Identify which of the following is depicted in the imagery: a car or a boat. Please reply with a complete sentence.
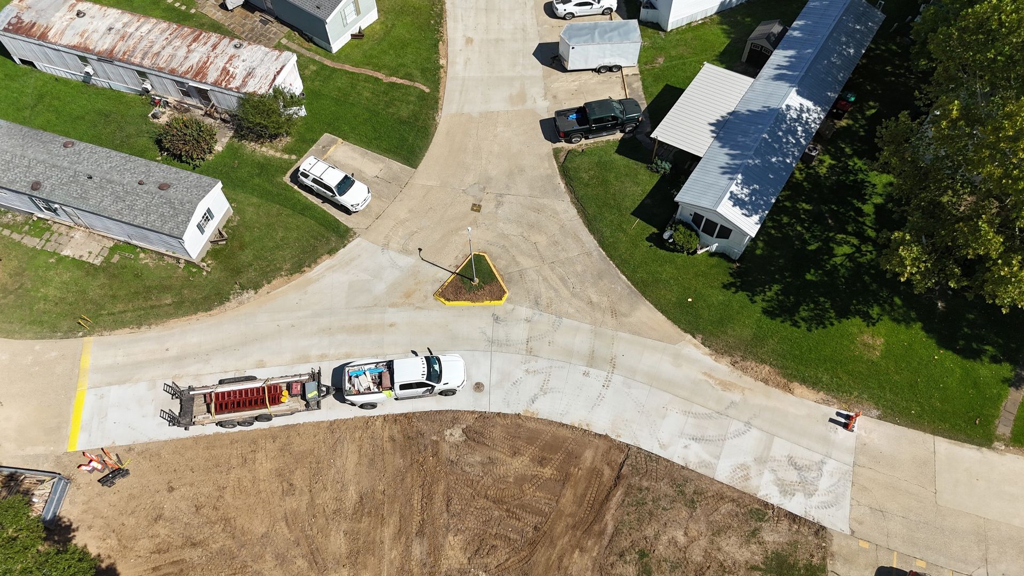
The image shows a car.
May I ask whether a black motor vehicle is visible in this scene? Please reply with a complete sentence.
Yes, the frame does contain a black motor vehicle.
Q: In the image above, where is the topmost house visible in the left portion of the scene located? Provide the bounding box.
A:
[247,0,380,54]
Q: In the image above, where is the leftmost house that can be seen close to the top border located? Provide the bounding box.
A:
[0,0,310,123]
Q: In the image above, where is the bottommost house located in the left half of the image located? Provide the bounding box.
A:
[0,121,232,262]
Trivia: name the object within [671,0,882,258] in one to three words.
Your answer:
house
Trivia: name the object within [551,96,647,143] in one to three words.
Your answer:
truck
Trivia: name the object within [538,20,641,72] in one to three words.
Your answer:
trailer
